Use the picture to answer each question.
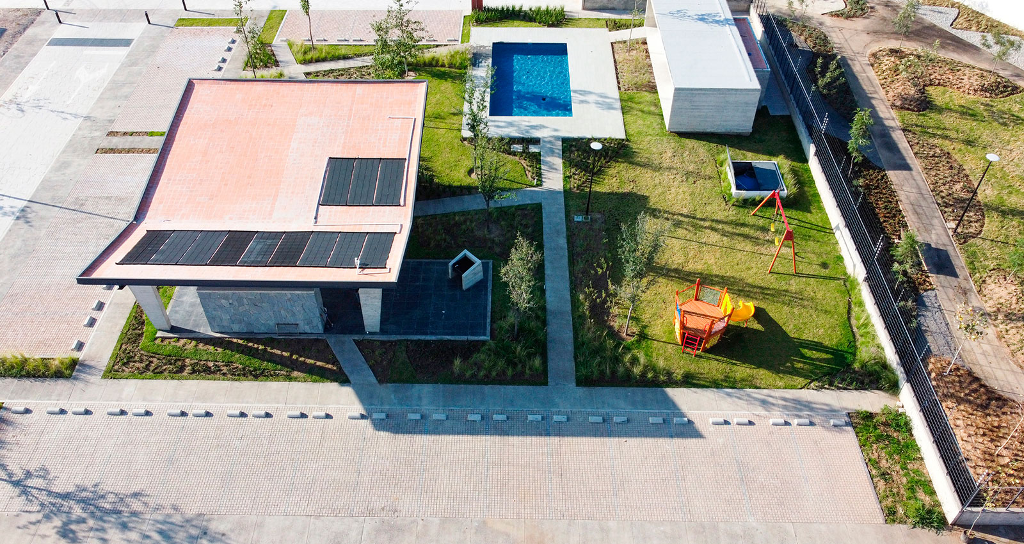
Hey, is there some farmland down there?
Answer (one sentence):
No, the scene doesn't show any farmland.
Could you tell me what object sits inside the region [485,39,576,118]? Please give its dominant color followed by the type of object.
blue swimming pool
